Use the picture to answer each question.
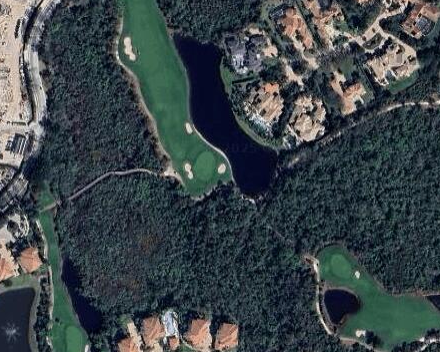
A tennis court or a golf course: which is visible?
golf course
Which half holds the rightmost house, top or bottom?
top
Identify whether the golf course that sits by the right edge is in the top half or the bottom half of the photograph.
bottom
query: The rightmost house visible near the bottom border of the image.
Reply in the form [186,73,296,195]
[212,322,239,349]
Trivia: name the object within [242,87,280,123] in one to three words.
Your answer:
house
